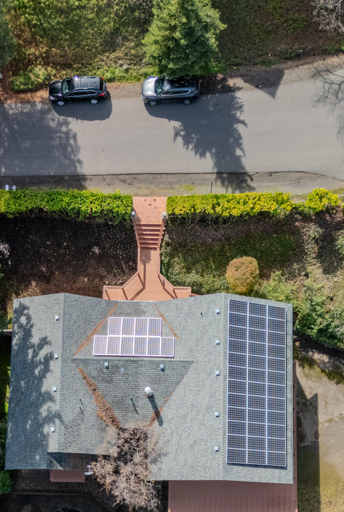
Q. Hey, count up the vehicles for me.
2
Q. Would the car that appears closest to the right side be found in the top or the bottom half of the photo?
top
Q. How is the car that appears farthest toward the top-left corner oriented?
from side to side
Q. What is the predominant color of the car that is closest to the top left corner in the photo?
black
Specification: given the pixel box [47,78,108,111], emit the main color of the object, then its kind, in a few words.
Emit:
black car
